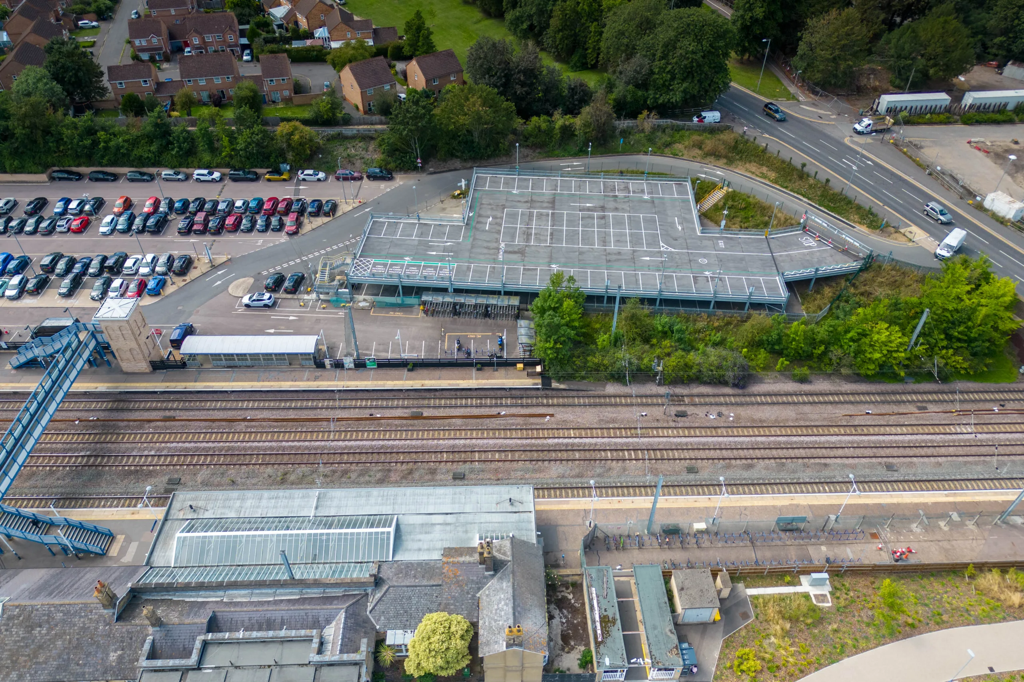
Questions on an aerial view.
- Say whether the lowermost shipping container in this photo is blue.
No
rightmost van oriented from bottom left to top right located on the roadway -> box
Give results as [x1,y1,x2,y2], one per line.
[940,222,975,256]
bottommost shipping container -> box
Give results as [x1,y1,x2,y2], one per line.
[985,187,1024,220]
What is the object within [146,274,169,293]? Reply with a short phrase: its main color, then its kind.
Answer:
blue car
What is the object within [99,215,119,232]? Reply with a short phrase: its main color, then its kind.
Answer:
white car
